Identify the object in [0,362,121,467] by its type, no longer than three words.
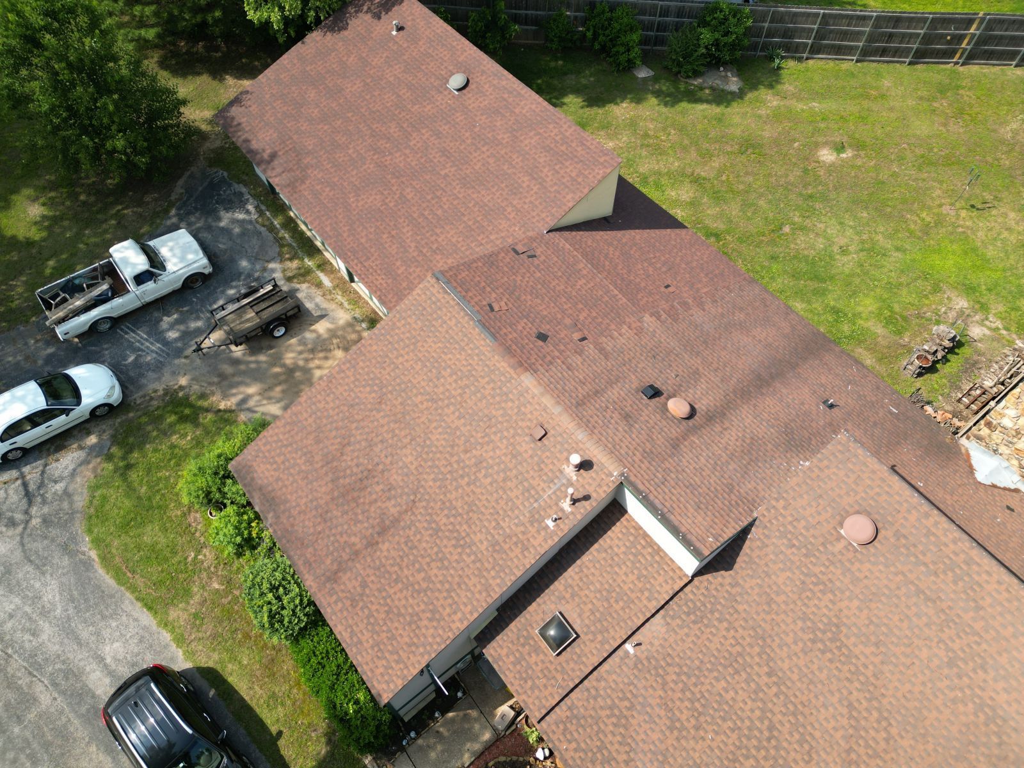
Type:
car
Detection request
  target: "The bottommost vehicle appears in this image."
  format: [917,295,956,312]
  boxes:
[105,666,267,768]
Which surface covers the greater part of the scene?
buildings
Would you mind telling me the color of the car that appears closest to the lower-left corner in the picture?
black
